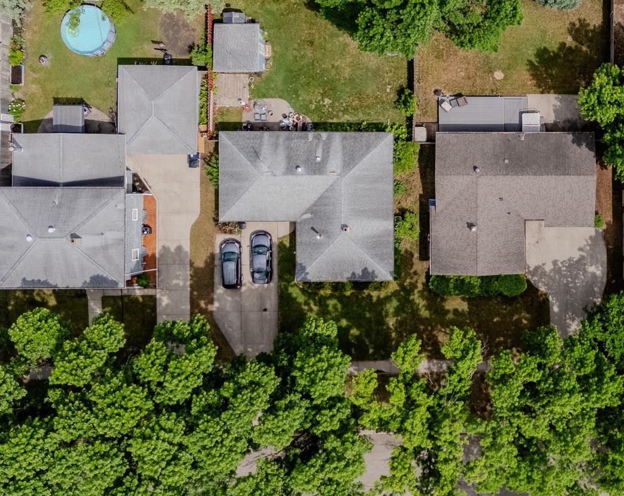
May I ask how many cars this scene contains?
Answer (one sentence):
The picture shows 2 cars.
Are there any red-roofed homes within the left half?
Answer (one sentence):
No, the scene shows no red-roofed home within the left half.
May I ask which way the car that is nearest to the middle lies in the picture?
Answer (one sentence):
Seen from above, the car that is nearest to the middle lies up and down.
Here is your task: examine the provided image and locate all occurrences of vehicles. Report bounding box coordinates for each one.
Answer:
[214,238,242,291]
[244,231,272,286]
